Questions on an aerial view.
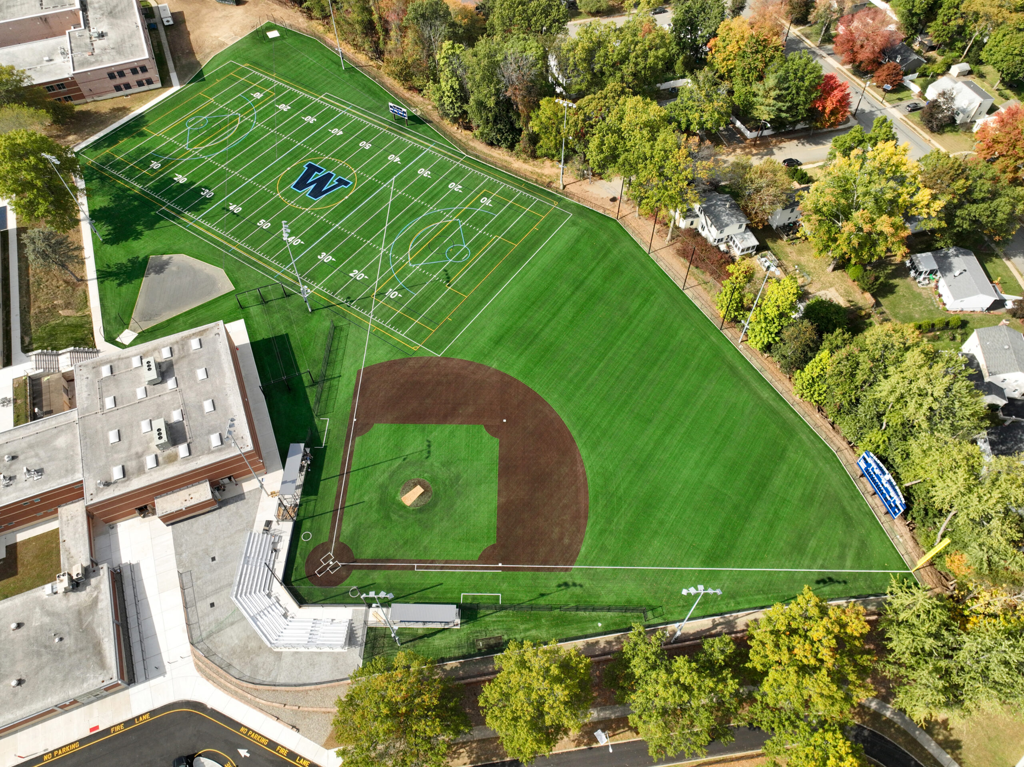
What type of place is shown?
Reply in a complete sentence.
It's a sports ground.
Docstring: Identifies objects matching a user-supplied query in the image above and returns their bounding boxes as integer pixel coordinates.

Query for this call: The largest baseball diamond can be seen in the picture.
[75,21,919,675]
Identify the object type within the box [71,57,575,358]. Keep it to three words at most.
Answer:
sports field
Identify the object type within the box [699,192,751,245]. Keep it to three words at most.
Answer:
house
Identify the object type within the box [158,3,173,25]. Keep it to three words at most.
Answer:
vehicle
